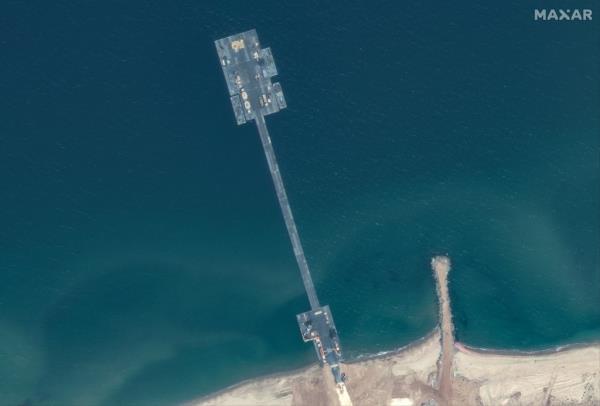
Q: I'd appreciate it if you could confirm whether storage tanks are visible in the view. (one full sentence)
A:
No, I can't see a single storage tank in this photo.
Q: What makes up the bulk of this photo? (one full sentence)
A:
The scene is dominated by water.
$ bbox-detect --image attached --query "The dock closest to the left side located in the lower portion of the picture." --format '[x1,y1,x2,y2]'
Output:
[296,306,344,364]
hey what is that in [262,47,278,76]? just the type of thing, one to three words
ship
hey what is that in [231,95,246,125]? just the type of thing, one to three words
ship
